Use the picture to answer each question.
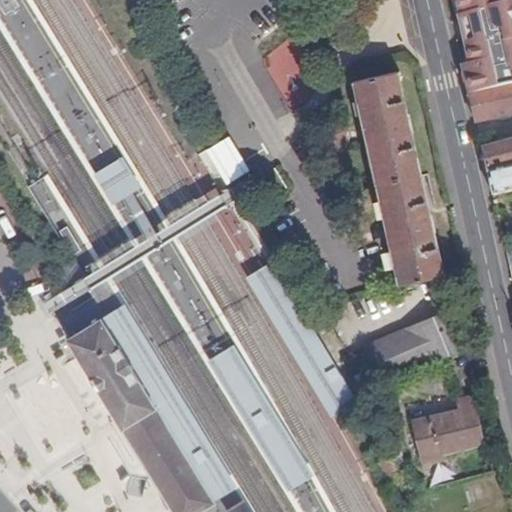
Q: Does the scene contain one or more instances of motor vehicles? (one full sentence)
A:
Yes, this view includes a motor vehicle.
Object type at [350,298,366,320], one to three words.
car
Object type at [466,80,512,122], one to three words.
house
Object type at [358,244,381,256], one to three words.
vehicle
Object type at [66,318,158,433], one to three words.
building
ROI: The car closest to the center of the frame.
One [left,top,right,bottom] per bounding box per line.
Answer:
[274,217,296,234]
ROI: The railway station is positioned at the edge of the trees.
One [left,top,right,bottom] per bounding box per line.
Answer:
[0,0,334,512]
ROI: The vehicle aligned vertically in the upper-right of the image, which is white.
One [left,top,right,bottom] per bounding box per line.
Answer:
[457,120,470,145]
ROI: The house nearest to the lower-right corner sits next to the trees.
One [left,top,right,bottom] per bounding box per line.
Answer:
[411,394,483,465]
